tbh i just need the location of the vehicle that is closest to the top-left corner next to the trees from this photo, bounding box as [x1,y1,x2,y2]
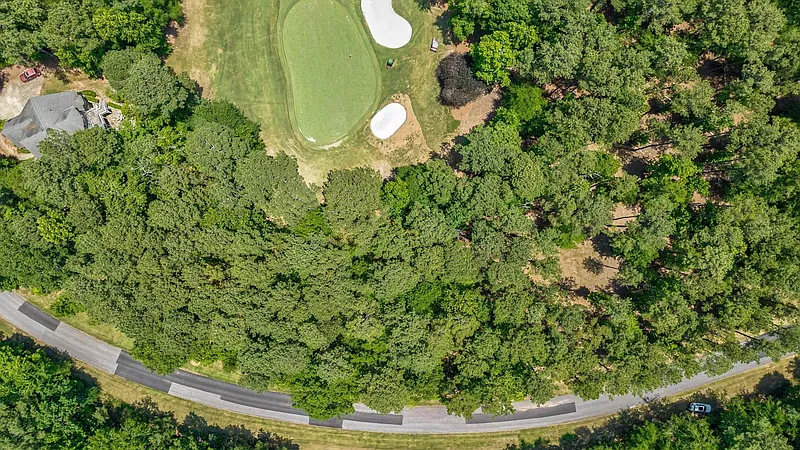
[17,66,40,82]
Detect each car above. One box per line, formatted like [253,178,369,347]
[17,66,40,82]
[690,402,712,414]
